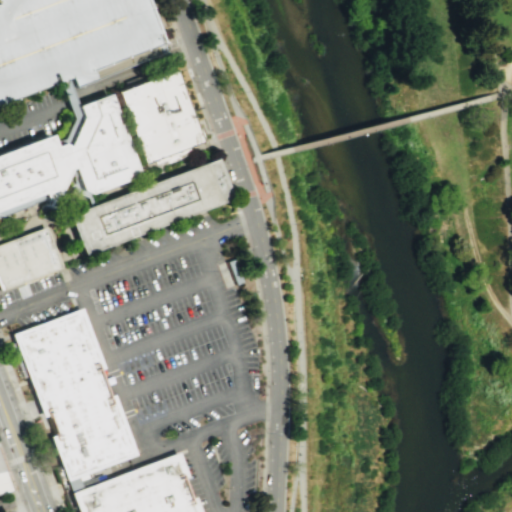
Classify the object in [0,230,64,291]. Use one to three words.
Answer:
building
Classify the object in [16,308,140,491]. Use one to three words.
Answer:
warehouse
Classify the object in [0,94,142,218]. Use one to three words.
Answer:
building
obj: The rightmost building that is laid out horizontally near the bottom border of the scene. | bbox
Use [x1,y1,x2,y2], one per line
[75,449,207,512]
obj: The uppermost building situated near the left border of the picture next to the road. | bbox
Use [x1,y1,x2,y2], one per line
[0,0,168,100]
